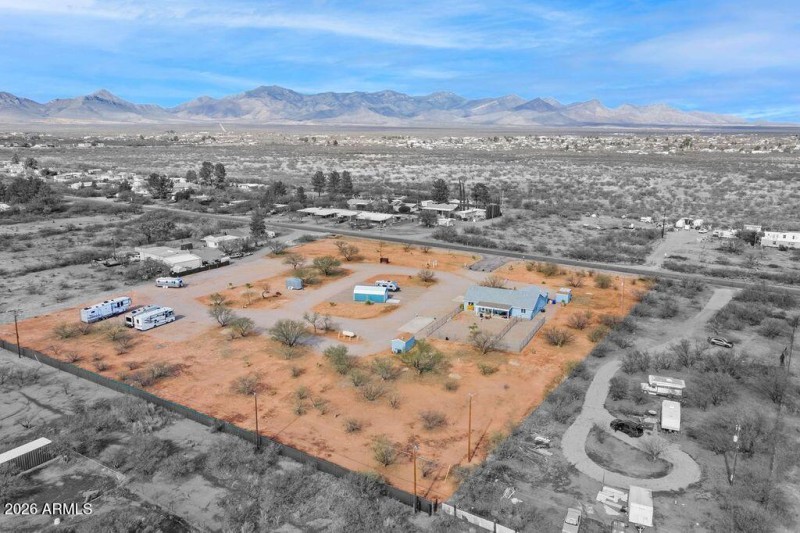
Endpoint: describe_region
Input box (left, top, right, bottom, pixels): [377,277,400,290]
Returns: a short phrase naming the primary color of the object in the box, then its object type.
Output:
white vehicle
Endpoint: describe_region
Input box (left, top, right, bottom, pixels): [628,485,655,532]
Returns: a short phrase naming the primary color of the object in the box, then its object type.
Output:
white trailer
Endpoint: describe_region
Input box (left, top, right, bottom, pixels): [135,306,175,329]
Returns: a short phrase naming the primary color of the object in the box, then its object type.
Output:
white camper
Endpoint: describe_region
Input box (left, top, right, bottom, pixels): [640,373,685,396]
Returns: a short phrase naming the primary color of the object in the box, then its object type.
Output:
white truck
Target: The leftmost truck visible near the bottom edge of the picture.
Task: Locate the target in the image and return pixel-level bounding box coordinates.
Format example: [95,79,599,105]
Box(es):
[562,496,584,533]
